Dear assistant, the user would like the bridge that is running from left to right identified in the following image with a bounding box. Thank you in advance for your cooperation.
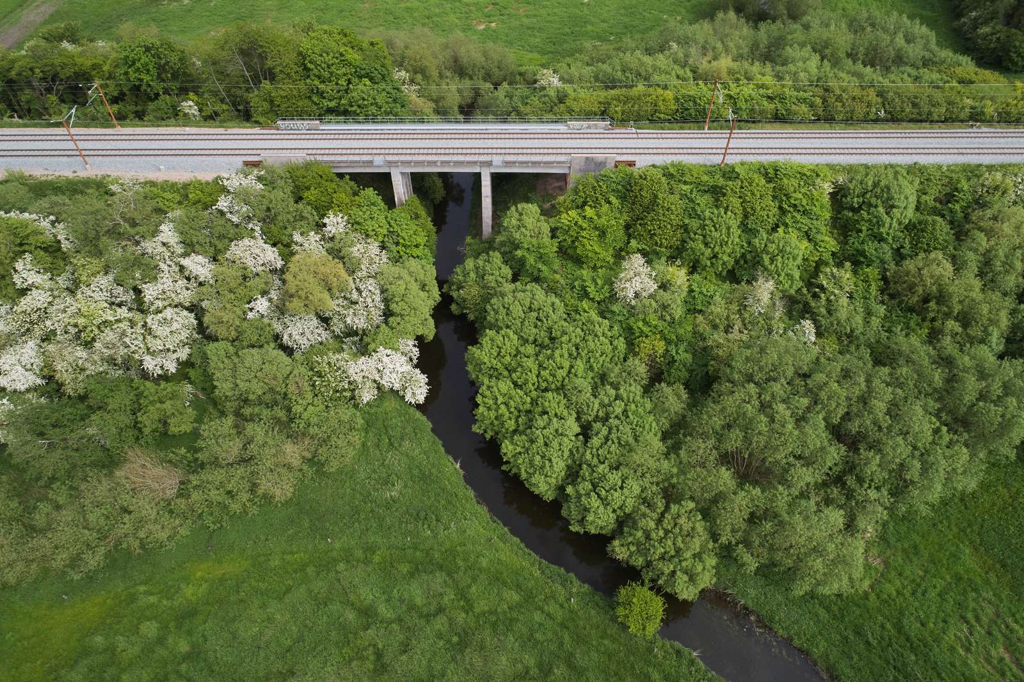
[253,115,619,235]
